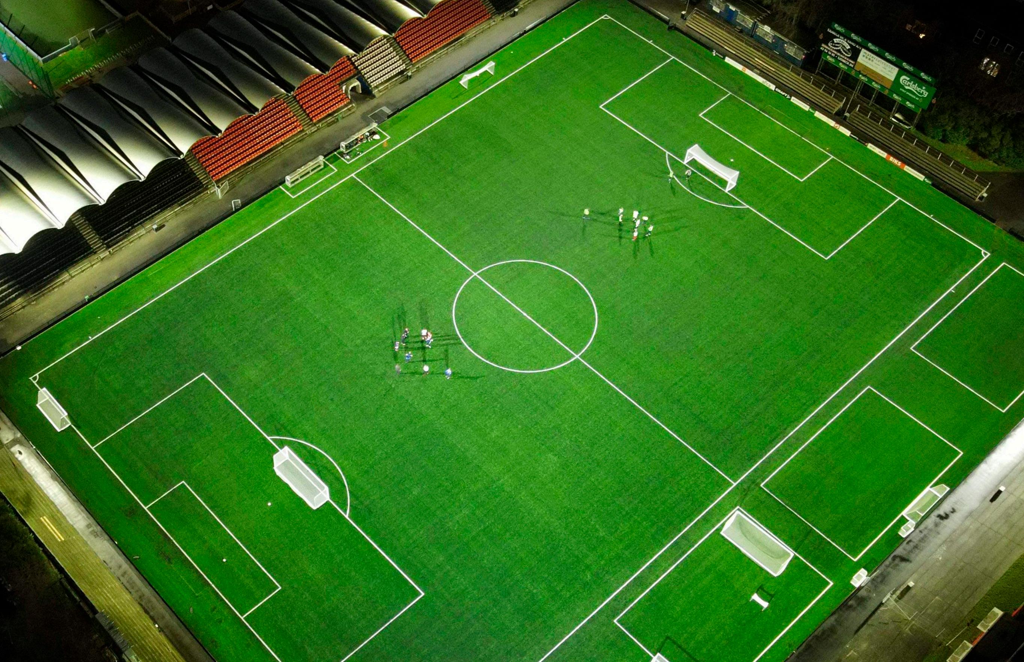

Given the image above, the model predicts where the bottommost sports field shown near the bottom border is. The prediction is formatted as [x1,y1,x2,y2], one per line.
[614,506,833,662]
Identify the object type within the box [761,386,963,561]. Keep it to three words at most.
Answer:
sports field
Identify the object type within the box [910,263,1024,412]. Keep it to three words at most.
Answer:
sports field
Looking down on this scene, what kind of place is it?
sports ground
